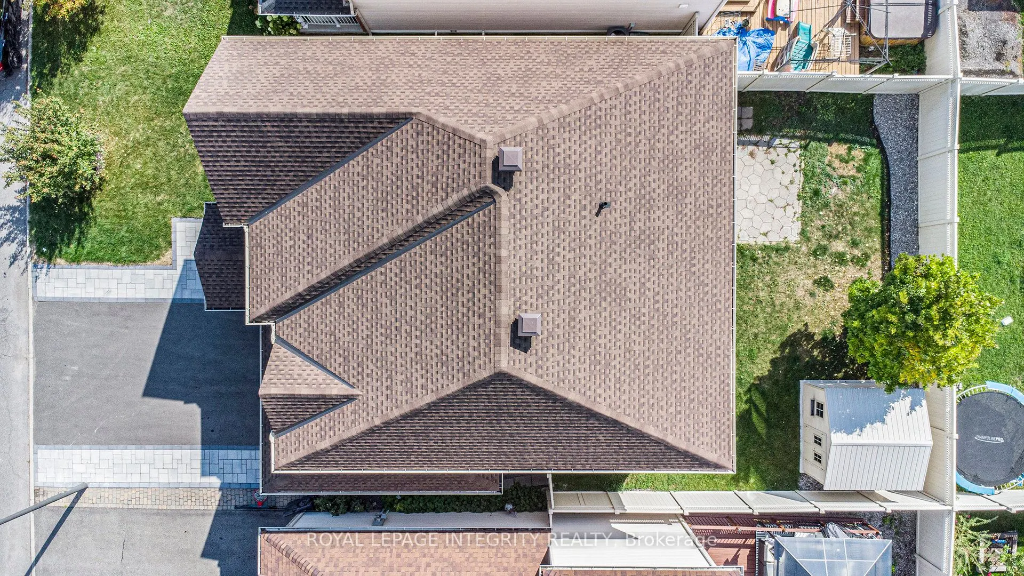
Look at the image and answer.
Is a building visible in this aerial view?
Yes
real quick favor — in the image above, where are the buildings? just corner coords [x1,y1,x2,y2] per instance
[800,379,936,490]
[259,0,724,35]
[259,512,745,576]
[182,34,736,494]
